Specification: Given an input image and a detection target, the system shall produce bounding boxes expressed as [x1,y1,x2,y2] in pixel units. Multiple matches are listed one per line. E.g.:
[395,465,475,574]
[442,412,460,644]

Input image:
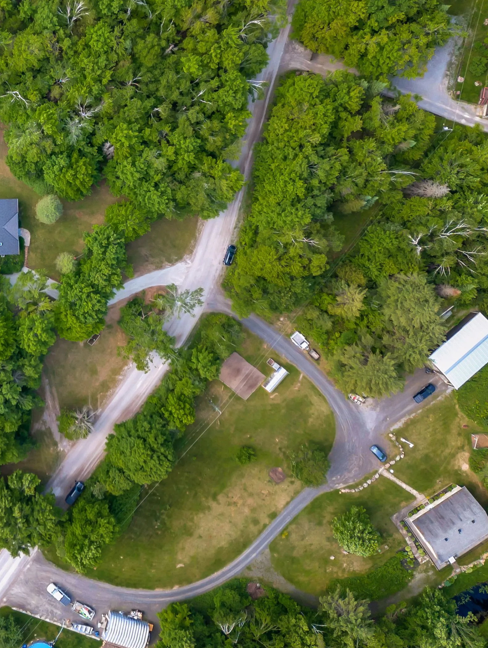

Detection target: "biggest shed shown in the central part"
[215,352,267,400]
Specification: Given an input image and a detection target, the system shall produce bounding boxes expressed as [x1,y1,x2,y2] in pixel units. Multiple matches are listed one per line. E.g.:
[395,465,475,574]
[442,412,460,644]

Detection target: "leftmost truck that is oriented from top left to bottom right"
[47,583,72,611]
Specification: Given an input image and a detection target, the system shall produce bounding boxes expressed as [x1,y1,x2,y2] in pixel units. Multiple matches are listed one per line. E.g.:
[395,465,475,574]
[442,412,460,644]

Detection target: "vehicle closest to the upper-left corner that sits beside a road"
[221,244,236,266]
